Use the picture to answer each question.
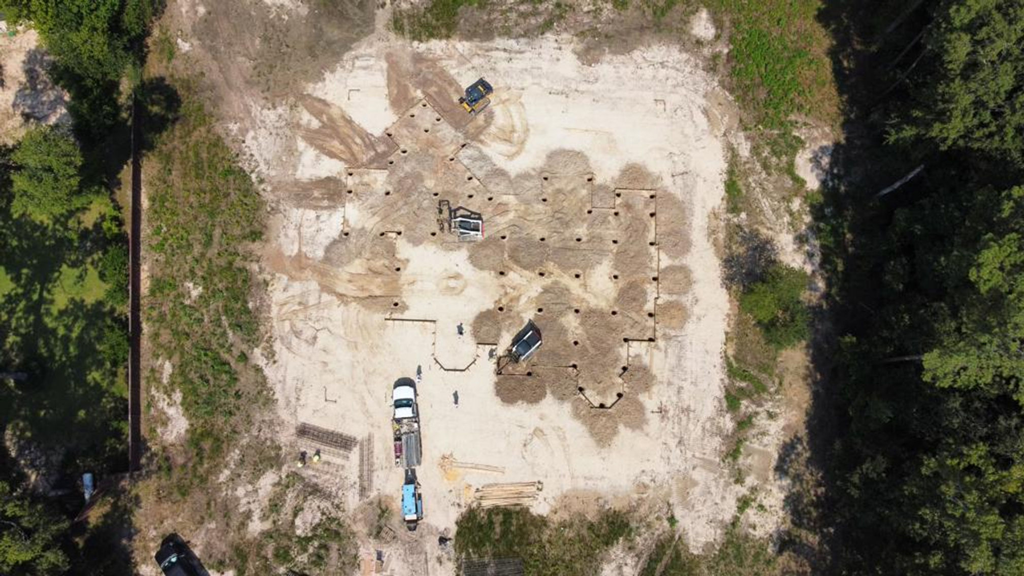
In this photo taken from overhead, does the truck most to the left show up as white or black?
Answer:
black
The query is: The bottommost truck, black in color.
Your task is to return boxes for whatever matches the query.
[161,538,209,576]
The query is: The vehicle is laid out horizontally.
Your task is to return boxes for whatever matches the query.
[439,217,486,237]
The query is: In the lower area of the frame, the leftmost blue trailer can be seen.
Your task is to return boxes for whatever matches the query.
[401,468,424,530]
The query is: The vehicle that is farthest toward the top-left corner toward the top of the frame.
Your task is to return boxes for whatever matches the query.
[457,79,492,117]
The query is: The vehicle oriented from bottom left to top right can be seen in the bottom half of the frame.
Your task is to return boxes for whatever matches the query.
[497,330,542,372]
